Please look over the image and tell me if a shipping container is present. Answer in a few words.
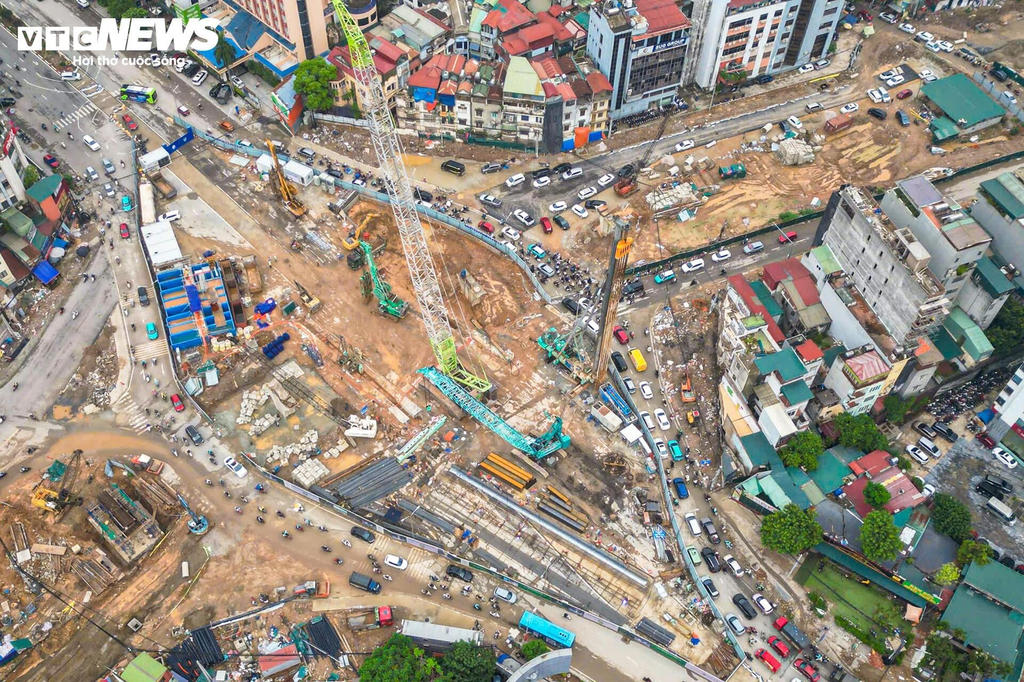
Yes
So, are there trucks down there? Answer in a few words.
Yes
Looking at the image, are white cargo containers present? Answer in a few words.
Yes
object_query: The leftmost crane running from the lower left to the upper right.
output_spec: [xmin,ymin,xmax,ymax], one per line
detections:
[28,449,93,514]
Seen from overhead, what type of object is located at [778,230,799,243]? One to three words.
vehicle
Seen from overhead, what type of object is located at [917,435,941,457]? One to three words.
vehicle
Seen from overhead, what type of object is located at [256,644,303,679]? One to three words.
shed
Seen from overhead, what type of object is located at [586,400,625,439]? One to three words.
shipping container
